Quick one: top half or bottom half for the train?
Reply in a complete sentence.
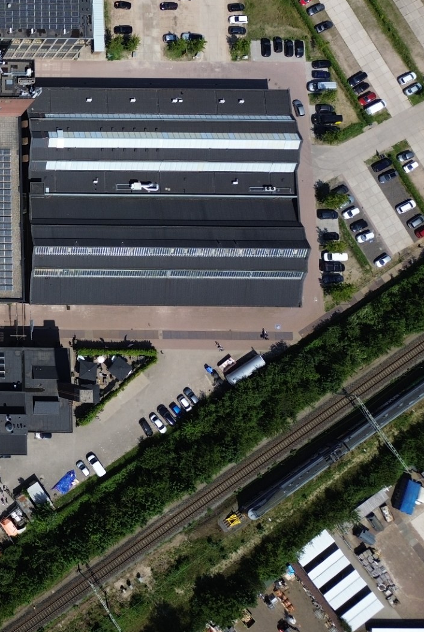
The train is in the bottom half of the image.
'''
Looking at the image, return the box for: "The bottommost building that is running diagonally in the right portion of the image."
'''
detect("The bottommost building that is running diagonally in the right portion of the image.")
[292,526,384,632]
